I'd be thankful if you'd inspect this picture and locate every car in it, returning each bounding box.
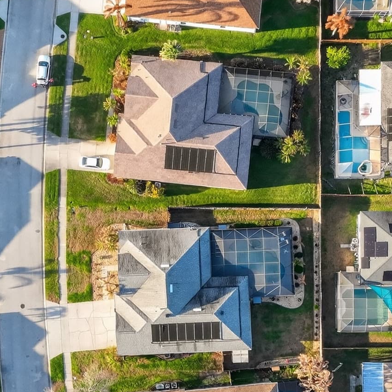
[35,55,52,88]
[78,155,111,170]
